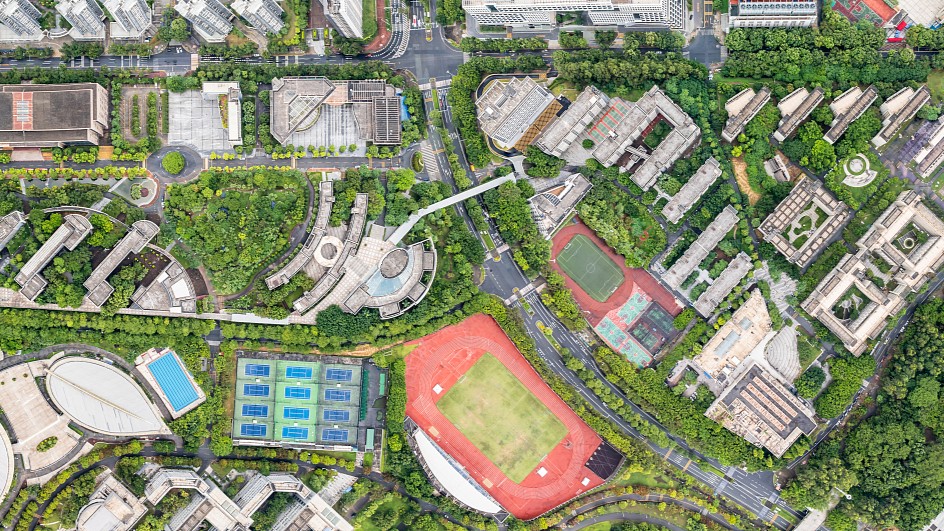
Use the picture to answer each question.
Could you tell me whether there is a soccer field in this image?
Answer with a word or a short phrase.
Yes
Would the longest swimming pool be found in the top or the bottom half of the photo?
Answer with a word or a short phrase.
bottom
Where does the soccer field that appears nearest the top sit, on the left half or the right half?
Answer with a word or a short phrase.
right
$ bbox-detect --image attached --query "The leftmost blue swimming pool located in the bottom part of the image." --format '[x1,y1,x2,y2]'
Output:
[136,348,204,419]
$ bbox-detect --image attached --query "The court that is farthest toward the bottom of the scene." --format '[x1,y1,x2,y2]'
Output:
[584,442,625,483]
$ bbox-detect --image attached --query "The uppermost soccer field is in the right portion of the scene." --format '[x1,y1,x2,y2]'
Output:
[551,219,683,327]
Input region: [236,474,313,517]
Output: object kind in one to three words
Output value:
building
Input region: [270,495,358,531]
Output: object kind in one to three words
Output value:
building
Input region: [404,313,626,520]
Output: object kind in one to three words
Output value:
running track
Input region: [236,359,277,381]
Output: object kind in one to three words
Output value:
tennis court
